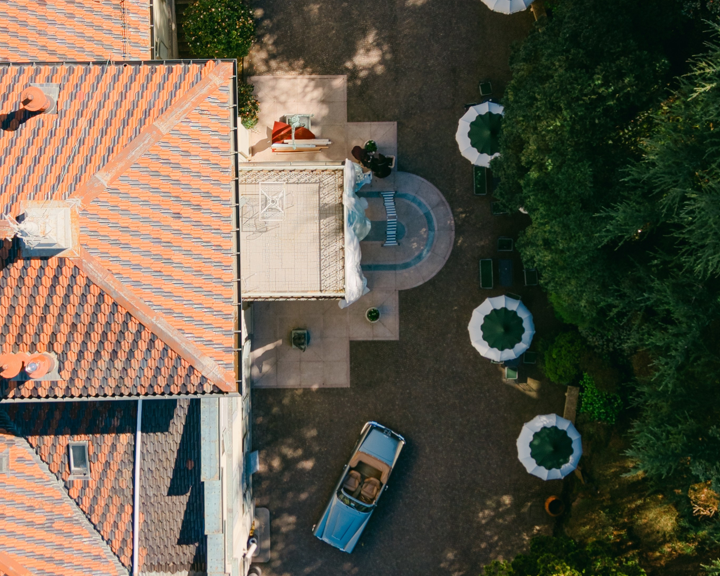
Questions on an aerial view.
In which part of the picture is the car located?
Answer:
bottom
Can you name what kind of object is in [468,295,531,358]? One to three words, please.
umbrella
